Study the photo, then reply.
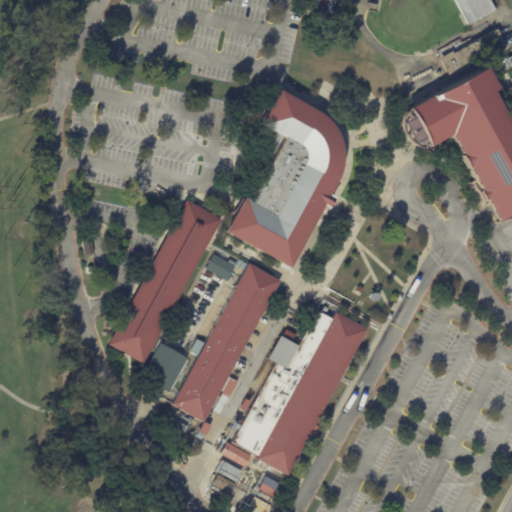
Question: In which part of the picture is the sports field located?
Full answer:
The sports field sits in the top right section of the image.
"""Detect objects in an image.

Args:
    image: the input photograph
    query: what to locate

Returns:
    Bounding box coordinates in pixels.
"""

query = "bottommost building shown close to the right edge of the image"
[398,68,512,219]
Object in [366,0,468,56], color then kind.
green sports field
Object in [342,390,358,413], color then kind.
white vehicle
